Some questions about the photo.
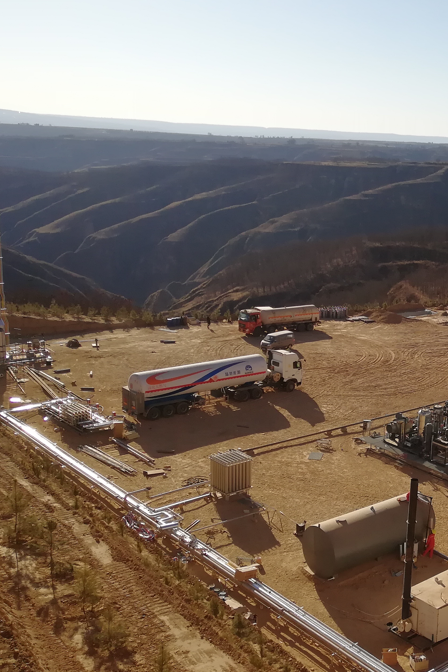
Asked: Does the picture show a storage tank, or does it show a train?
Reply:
storage tank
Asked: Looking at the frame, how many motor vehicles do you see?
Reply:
3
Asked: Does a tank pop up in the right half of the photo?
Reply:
Yes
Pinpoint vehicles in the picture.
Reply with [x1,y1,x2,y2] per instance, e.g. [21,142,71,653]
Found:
[120,351,304,421]
[238,303,319,337]
[257,330,295,351]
